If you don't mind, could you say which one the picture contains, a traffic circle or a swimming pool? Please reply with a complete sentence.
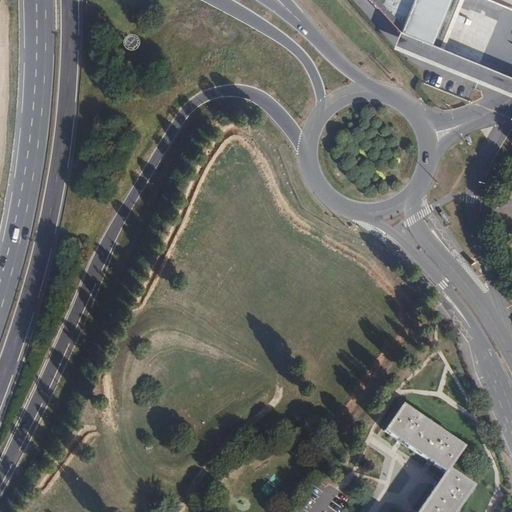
It is a traffic circle that can be seen here.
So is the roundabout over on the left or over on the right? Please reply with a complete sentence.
The roundabout appears in the right half of the scene.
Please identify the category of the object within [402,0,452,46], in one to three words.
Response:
building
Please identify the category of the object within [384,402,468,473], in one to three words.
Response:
building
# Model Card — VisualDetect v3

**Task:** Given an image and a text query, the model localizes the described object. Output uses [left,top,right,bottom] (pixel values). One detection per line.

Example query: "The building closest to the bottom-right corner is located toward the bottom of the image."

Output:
[420,466,478,512]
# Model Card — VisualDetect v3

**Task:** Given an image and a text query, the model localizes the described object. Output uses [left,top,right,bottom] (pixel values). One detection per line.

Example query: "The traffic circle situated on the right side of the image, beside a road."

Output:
[298,82,441,240]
